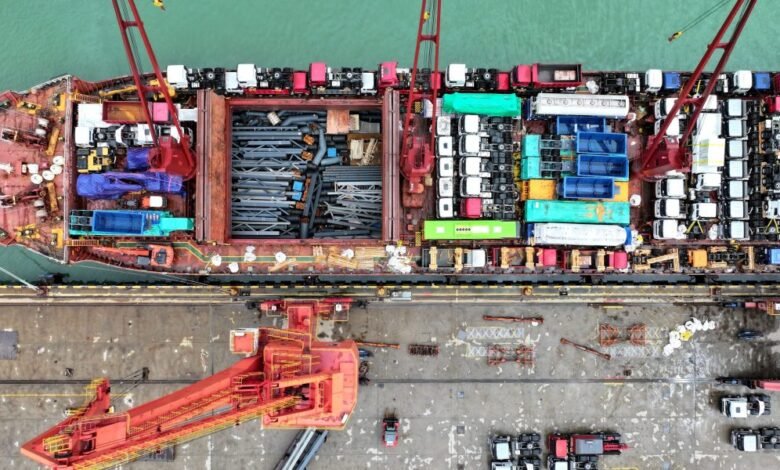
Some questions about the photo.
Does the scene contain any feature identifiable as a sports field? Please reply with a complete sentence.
No, no sports field is visible in the scene.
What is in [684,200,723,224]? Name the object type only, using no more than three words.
truck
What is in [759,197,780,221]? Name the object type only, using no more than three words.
truck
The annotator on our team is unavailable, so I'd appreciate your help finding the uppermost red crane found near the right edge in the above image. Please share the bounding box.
[633,0,762,198]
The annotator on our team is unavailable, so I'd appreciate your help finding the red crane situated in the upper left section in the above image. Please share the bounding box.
[108,0,197,194]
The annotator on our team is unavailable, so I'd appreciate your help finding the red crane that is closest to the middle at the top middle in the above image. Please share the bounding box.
[400,0,441,195]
